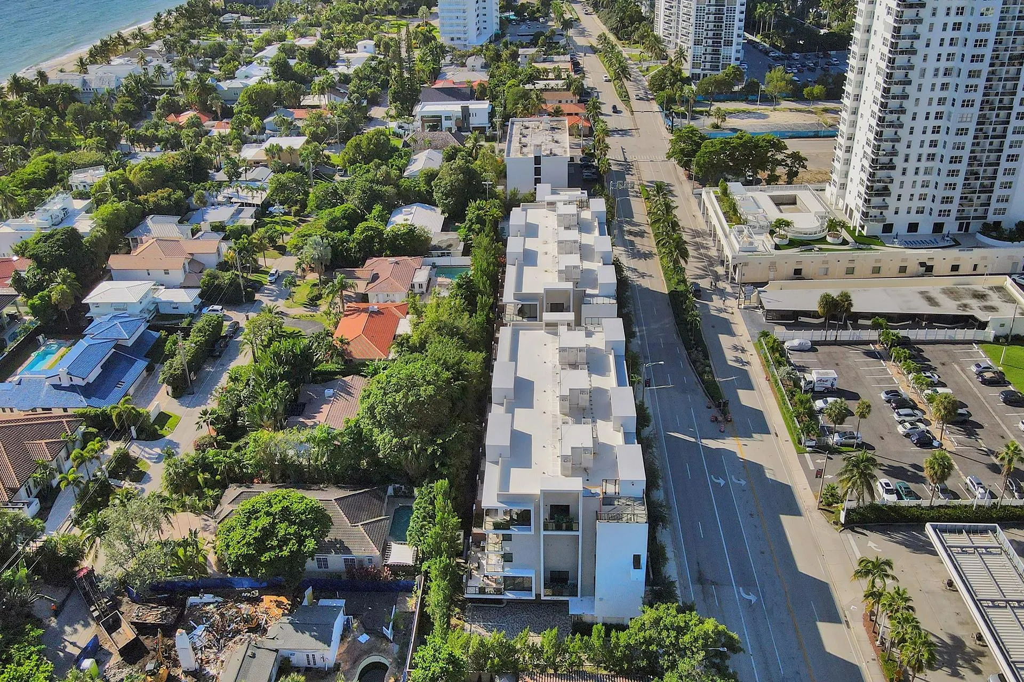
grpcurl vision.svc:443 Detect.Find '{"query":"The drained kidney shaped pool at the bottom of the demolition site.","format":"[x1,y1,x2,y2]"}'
[352,653,396,682]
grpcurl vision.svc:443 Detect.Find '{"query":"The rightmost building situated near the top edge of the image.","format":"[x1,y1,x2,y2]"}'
[822,0,1024,236]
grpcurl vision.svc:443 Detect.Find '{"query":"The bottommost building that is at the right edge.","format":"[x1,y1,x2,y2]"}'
[756,276,1024,334]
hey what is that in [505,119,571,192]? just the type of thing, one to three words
building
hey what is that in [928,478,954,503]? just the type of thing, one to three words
car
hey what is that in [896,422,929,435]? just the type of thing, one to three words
vehicle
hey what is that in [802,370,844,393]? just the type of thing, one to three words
truck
